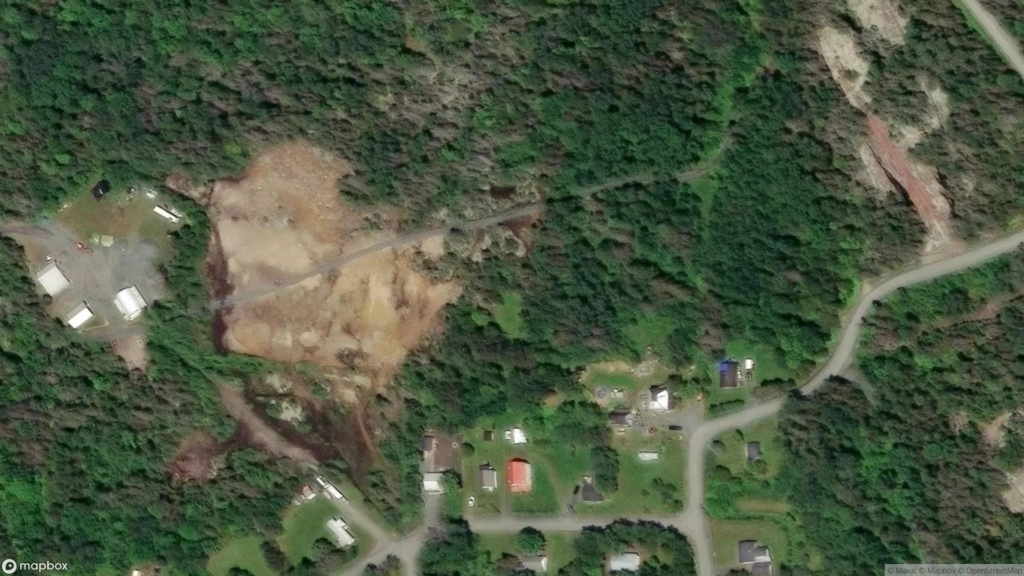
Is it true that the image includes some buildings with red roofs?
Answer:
Yes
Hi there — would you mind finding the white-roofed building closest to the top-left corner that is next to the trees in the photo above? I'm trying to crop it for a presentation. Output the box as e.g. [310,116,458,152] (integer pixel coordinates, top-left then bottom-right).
[36,262,73,299]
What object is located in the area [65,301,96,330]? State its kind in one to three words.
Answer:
building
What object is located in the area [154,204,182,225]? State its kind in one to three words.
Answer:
camper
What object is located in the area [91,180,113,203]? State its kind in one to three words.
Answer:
shed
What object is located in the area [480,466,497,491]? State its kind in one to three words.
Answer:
house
